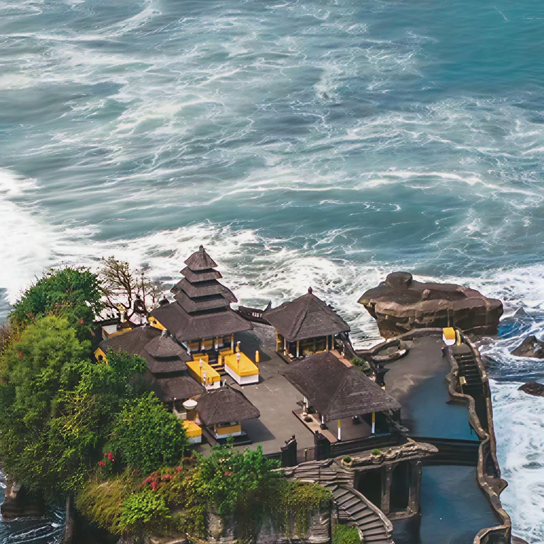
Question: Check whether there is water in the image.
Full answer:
Yes, there is water in the image.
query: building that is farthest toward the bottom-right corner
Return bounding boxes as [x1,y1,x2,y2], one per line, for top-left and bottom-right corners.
[278,349,405,459]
